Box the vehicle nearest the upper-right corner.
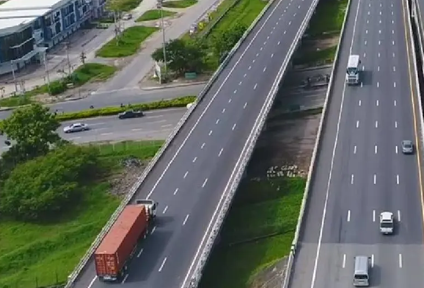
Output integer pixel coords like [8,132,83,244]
[347,56,360,84]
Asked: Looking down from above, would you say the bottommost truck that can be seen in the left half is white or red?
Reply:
red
